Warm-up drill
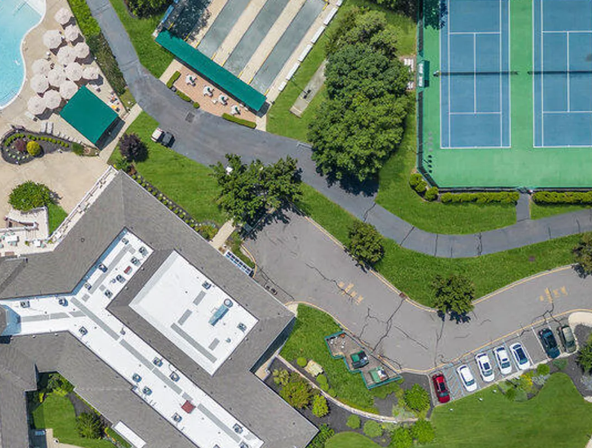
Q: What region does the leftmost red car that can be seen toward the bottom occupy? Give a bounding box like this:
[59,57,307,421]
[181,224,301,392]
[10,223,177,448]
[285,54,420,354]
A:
[429,371,451,404]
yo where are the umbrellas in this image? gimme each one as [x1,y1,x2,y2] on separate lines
[44,90,62,109]
[57,47,76,65]
[30,76,49,93]
[26,95,47,116]
[62,23,81,43]
[42,29,63,50]
[58,80,79,101]
[80,62,102,83]
[64,63,81,81]
[53,5,74,27]
[48,68,67,88]
[31,58,51,78]
[71,41,90,60]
